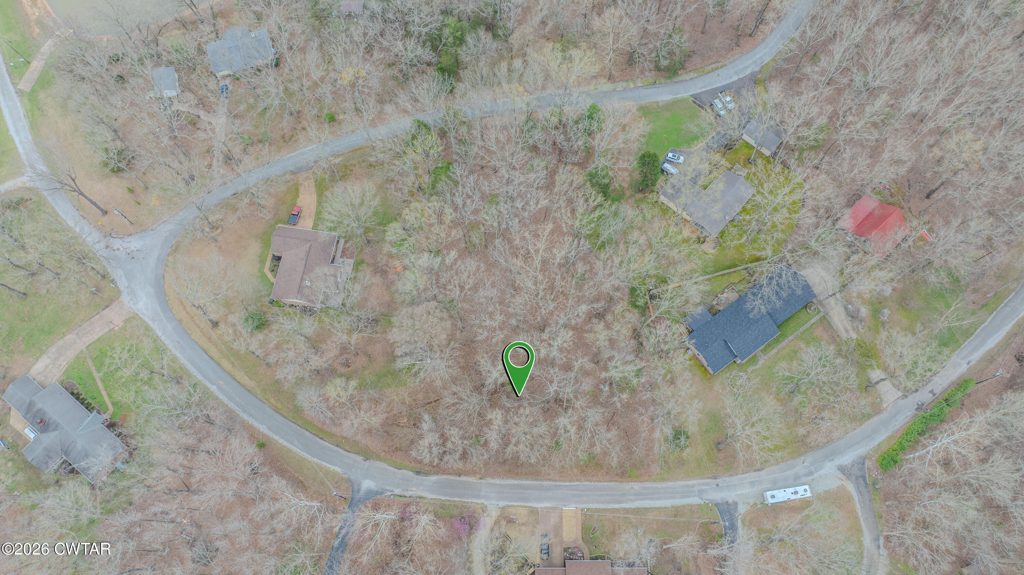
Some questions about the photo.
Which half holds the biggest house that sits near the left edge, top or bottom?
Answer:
bottom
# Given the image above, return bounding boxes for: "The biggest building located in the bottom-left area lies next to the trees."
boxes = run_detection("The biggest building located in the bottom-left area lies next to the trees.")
[1,373,131,482]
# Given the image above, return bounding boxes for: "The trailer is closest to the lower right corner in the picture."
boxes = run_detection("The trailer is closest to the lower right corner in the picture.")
[757,484,811,506]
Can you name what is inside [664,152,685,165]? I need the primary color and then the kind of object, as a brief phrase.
white vehicle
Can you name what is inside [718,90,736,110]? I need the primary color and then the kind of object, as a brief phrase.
white vehicle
